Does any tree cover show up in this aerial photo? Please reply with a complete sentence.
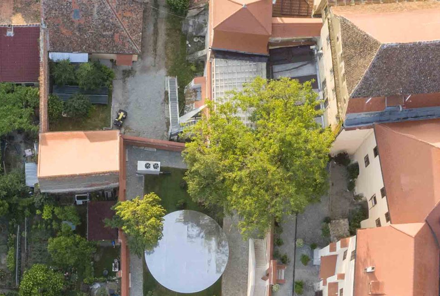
Yes, there's tree cover in this view.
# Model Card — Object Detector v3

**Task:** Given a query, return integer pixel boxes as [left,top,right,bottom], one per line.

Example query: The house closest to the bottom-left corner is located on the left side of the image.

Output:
[38,130,120,191]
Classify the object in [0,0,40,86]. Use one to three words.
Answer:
house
